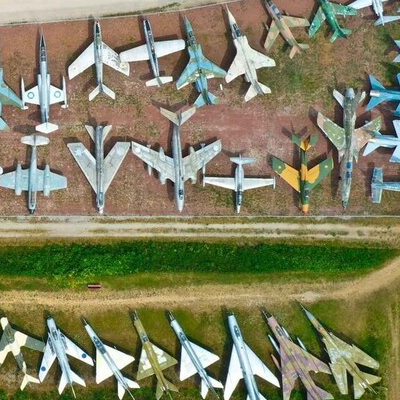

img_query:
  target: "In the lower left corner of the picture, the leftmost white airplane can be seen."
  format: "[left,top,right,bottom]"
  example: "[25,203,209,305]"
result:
[0,316,45,390]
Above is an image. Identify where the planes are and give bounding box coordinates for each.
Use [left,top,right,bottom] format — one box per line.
[372,169,400,204]
[38,316,93,394]
[131,313,177,400]
[225,6,276,100]
[316,86,379,209]
[225,312,280,400]
[22,33,68,133]
[264,0,310,58]
[81,319,139,399]
[203,155,275,213]
[348,0,395,26]
[275,135,334,214]
[367,75,400,117]
[0,135,66,214]
[267,311,334,400]
[135,108,225,212]
[365,122,400,165]
[301,306,382,398]
[167,314,224,398]
[0,316,45,390]
[310,0,358,42]
[120,18,182,86]
[69,125,130,215]
[177,16,226,107]
[69,21,130,100]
